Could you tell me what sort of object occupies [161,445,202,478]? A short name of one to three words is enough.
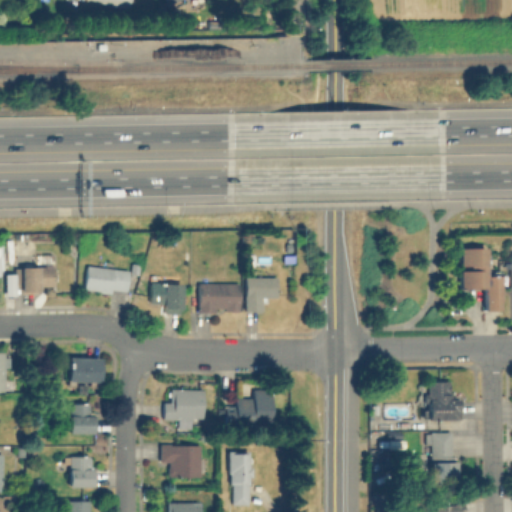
house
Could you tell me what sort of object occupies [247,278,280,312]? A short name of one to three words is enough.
house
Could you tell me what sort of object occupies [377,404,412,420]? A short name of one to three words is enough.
swimming pool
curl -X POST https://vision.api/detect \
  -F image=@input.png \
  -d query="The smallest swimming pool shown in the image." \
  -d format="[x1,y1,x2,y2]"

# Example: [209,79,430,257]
[252,255,273,267]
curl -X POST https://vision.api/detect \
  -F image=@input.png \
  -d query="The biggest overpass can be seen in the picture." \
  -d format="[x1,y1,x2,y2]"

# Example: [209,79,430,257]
[229,108,446,212]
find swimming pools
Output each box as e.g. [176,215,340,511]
[377,404,412,420]
[252,255,273,267]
